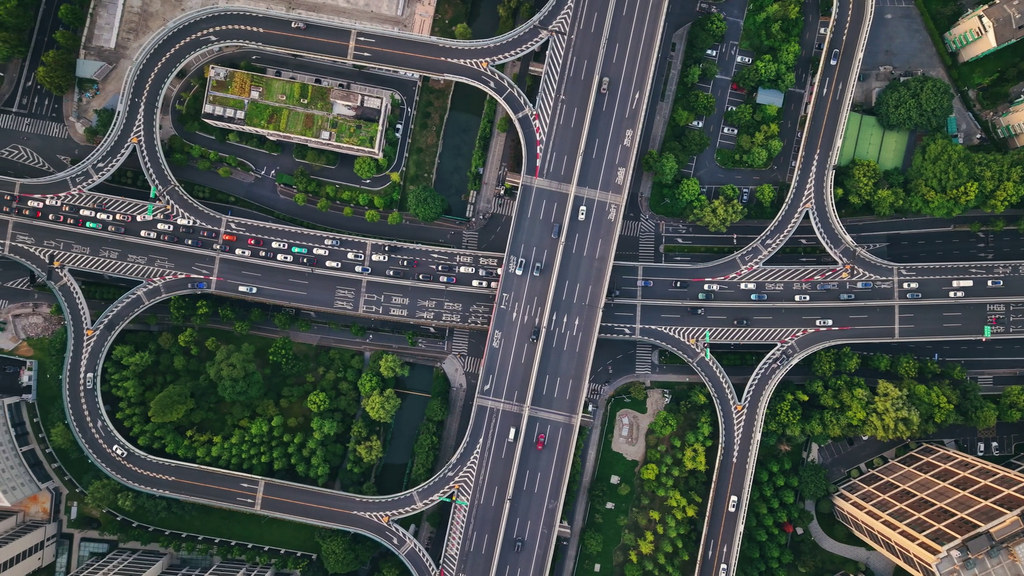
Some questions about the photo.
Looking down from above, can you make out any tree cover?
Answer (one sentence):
Yes, the picture does contain tree cover.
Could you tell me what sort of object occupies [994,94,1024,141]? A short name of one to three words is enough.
building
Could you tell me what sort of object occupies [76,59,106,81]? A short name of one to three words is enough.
shed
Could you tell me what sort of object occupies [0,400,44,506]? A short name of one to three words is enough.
building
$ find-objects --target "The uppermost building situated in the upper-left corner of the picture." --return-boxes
[92,0,131,51]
